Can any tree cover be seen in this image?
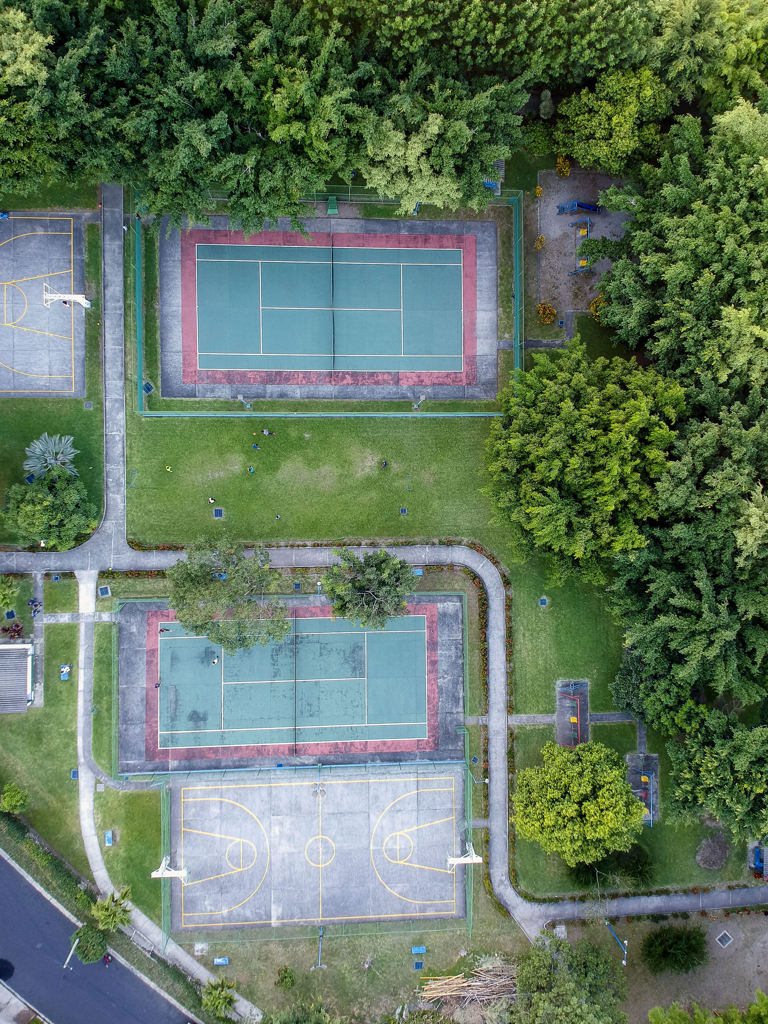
Yes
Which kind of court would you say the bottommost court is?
basketball court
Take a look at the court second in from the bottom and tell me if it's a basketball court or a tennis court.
tennis court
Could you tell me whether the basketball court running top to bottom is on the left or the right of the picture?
left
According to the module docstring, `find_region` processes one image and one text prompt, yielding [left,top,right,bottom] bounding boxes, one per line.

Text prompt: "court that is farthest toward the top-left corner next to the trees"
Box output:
[0,211,86,397]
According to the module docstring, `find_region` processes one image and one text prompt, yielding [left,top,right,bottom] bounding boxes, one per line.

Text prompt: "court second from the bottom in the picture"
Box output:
[118,596,465,775]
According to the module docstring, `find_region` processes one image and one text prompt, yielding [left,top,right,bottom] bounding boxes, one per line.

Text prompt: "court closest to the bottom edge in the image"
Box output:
[170,766,466,934]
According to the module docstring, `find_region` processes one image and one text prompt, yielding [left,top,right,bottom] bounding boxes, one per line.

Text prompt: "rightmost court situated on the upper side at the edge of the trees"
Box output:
[159,216,497,399]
